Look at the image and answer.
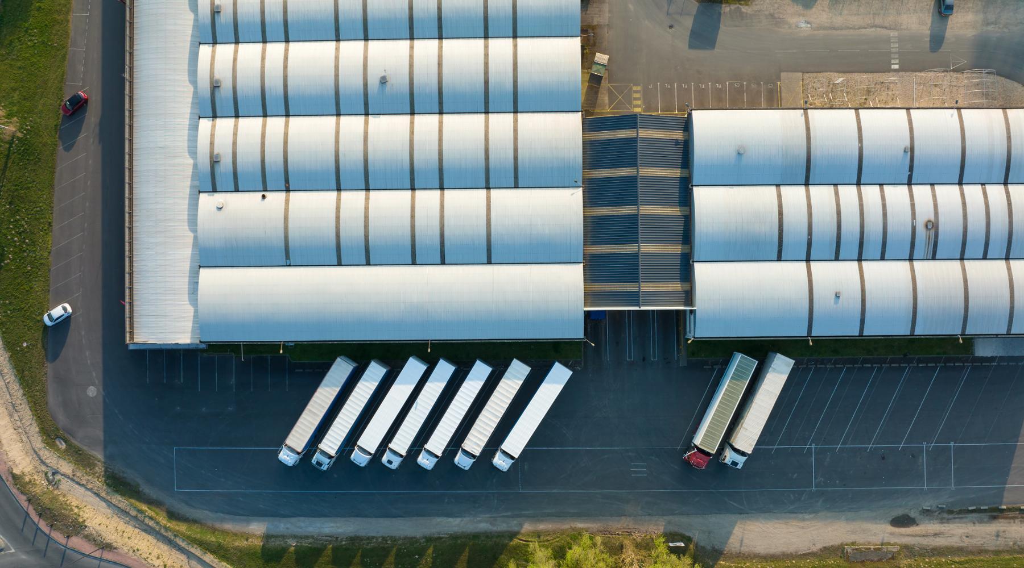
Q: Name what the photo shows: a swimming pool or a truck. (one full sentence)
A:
The image shows a truck.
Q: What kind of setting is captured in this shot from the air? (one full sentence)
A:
It's an industrial area.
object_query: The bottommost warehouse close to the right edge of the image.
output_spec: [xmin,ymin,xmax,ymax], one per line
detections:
[683,106,1024,343]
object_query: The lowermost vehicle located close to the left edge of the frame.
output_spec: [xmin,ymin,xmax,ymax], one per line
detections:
[41,303,72,326]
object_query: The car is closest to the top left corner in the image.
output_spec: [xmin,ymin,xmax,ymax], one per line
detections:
[59,89,88,113]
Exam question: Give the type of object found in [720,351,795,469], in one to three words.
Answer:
truck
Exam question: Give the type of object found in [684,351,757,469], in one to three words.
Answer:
truck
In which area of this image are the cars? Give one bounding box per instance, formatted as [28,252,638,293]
[59,89,88,113]
[41,303,72,326]
[935,0,952,15]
